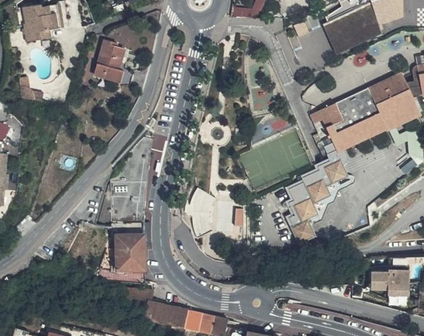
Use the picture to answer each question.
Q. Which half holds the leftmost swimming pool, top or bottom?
top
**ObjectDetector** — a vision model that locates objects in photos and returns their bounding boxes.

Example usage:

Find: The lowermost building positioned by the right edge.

[371,270,410,306]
